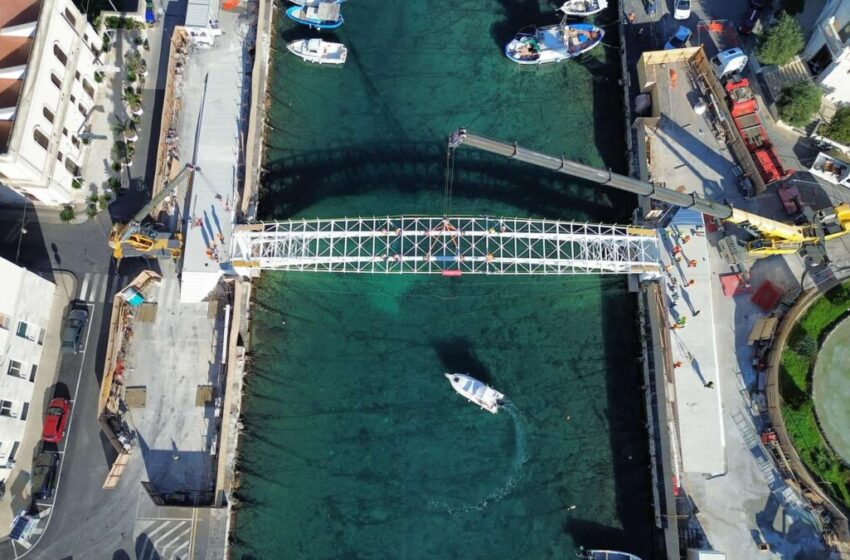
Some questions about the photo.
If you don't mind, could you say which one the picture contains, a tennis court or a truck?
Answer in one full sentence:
Looking from above, you can make out a truck.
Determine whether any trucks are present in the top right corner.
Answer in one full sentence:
Yes, a truck shows up in the top right corner.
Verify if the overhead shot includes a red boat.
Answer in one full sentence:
No, I can't see a single red boat in this photo.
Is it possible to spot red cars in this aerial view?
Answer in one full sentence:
Yes, there's a red car down there.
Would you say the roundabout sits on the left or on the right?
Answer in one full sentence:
The roundabout appears in the right half of the scene.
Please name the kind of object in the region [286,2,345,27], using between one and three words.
boat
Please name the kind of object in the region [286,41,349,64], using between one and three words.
boat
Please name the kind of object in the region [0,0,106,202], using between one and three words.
building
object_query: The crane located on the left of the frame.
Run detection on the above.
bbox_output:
[107,163,218,273]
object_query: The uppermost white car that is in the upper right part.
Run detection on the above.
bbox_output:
[672,0,693,22]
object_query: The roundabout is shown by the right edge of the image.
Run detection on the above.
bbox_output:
[778,273,850,497]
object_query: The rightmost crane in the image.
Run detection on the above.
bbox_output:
[442,126,850,285]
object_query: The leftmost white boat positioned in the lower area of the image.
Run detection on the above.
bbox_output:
[445,373,503,414]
